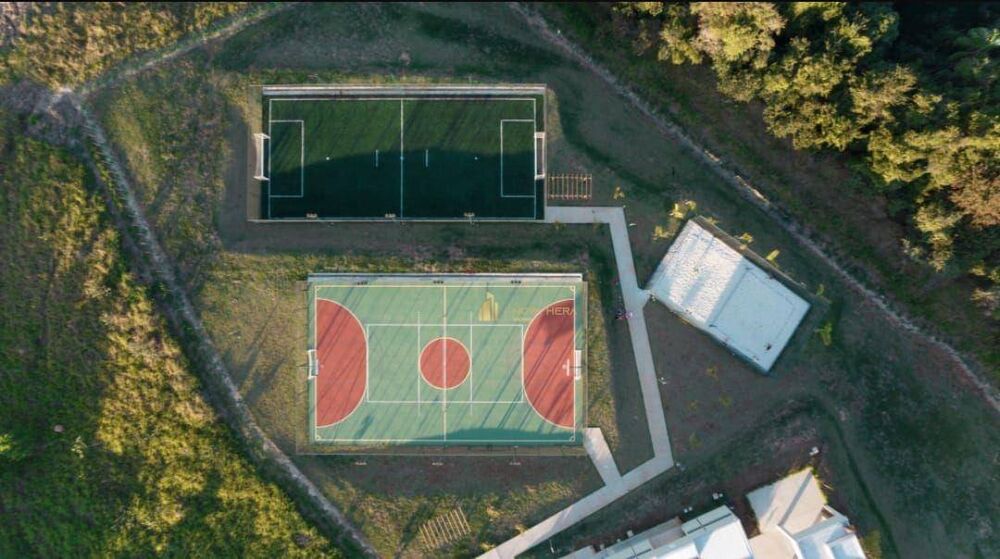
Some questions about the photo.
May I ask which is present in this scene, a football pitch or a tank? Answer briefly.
football pitch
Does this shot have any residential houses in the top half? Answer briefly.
No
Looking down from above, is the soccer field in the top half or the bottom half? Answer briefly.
top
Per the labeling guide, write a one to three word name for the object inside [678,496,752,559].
house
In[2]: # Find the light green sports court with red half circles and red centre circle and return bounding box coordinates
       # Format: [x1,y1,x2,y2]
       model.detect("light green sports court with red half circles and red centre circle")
[307,282,588,452]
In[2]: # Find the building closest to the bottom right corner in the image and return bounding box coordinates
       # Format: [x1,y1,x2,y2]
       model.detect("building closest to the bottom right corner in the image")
[771,504,863,559]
